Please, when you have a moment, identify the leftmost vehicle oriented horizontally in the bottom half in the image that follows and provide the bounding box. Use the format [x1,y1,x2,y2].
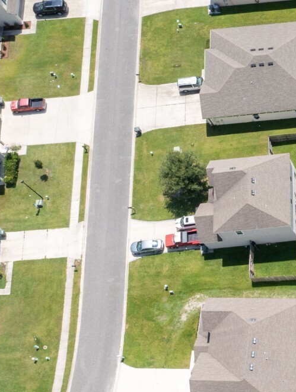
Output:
[129,241,165,256]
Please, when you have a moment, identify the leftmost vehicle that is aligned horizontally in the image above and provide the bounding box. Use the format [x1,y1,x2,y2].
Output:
[8,97,49,115]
